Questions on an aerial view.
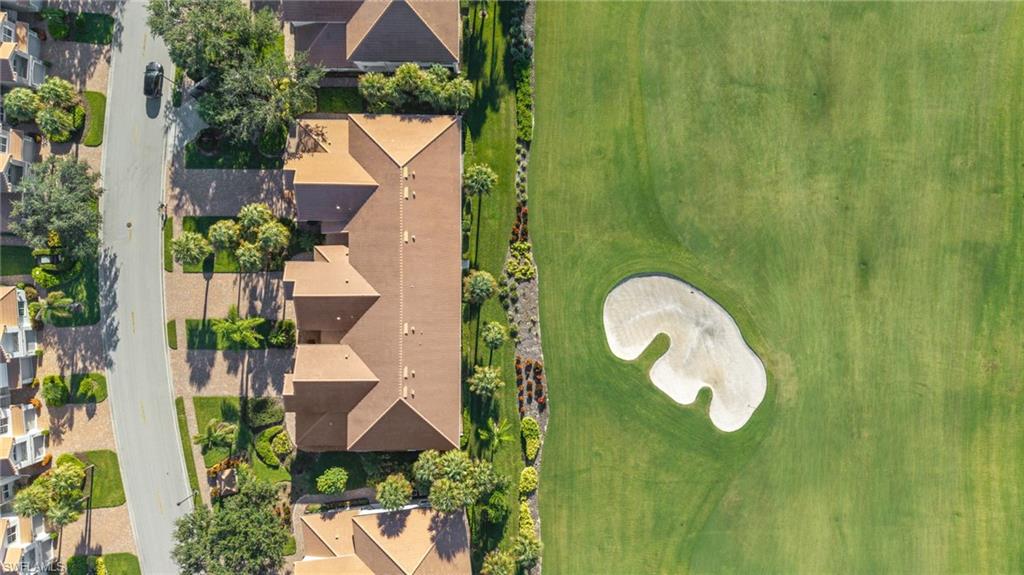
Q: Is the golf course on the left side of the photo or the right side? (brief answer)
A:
right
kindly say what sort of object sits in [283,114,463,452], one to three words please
house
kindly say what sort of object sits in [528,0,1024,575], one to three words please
golf course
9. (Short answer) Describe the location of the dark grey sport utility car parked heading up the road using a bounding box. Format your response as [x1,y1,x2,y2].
[145,63,164,99]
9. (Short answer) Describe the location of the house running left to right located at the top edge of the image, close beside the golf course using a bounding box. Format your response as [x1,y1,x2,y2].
[279,0,460,75]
